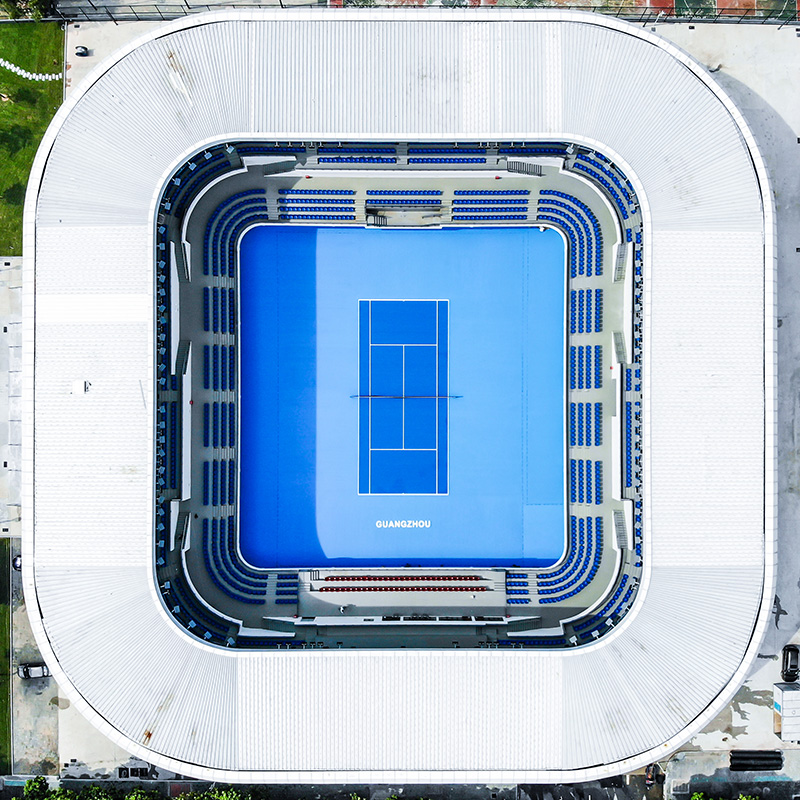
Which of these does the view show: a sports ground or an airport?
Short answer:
sports ground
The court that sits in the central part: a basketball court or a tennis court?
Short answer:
tennis court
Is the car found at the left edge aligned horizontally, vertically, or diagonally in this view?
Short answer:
horizontally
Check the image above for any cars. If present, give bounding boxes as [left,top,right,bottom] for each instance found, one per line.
[780,644,800,683]
[17,662,58,682]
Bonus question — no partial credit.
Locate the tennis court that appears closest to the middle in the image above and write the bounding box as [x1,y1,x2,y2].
[247,230,562,564]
